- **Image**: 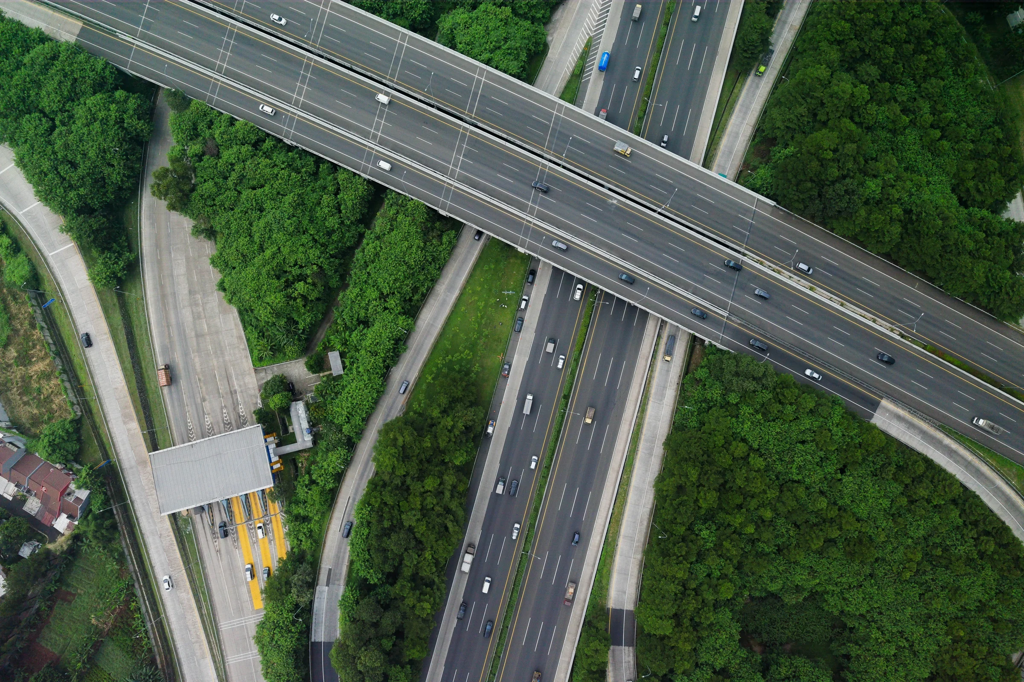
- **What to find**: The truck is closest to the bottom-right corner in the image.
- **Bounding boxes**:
[971,415,1005,437]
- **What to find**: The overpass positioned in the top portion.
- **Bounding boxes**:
[43,0,1021,443]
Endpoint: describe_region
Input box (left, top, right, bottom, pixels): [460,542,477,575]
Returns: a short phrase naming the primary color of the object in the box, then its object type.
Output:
white vehicle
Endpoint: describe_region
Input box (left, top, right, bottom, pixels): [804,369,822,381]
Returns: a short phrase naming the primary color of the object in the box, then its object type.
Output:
white vehicle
